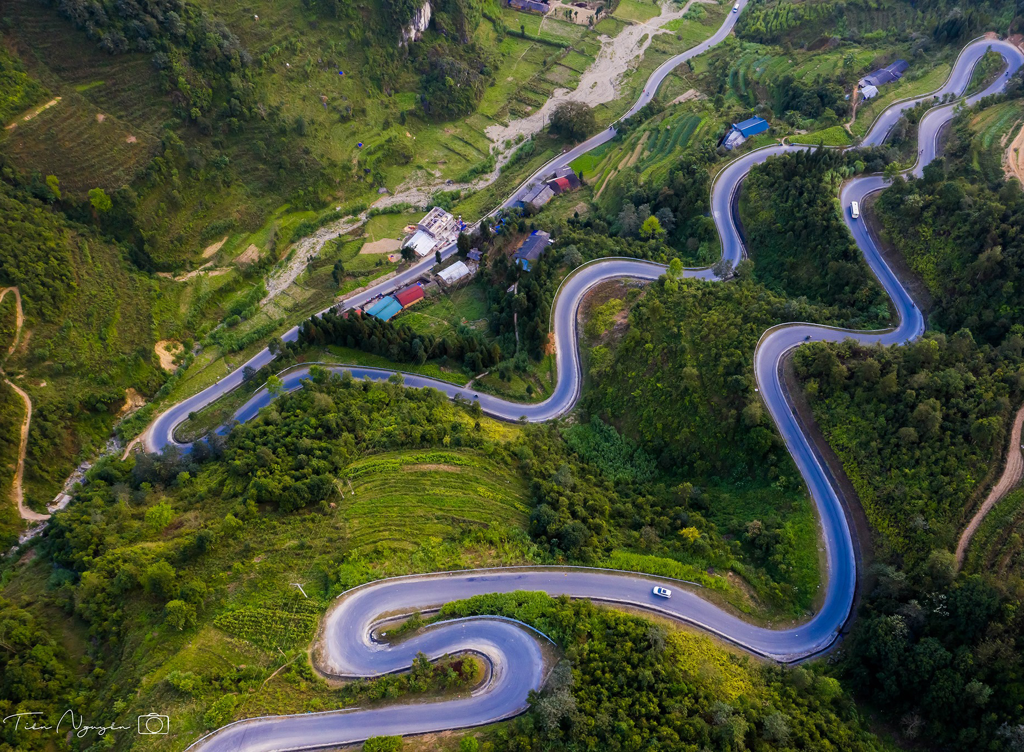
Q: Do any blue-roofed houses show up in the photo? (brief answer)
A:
Yes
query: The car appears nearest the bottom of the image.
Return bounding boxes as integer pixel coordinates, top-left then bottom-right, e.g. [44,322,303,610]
[652,587,673,599]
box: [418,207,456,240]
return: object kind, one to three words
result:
building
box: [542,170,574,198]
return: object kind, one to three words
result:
house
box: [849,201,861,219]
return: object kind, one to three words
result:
vehicle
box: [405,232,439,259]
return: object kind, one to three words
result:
shed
